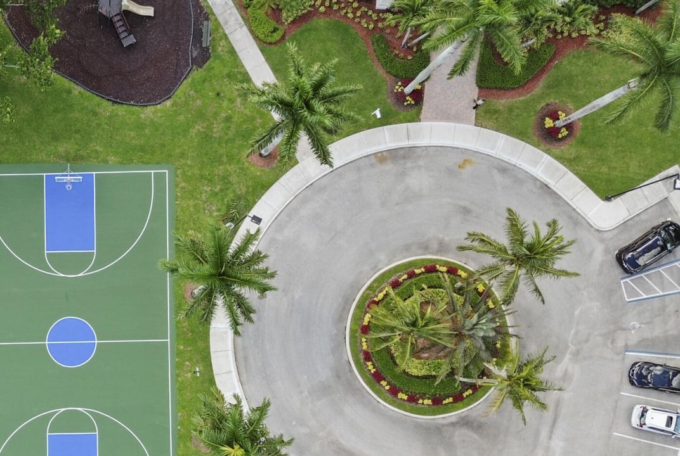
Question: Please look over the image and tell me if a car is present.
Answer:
Yes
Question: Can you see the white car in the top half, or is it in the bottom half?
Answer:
bottom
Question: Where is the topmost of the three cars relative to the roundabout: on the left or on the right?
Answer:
to its right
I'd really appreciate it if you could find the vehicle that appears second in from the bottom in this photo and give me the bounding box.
[629,361,680,393]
